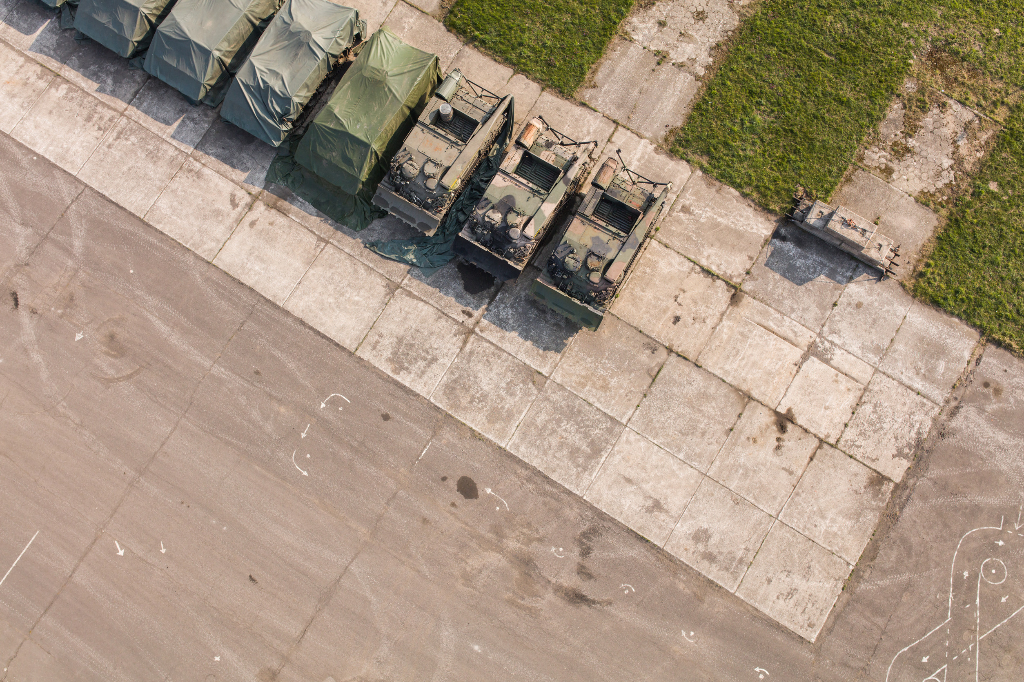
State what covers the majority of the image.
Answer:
paved ground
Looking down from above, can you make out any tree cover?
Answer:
No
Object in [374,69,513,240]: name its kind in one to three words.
vehicle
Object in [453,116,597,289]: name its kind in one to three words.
vehicle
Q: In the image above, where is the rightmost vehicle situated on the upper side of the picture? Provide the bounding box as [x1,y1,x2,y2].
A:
[530,148,672,333]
